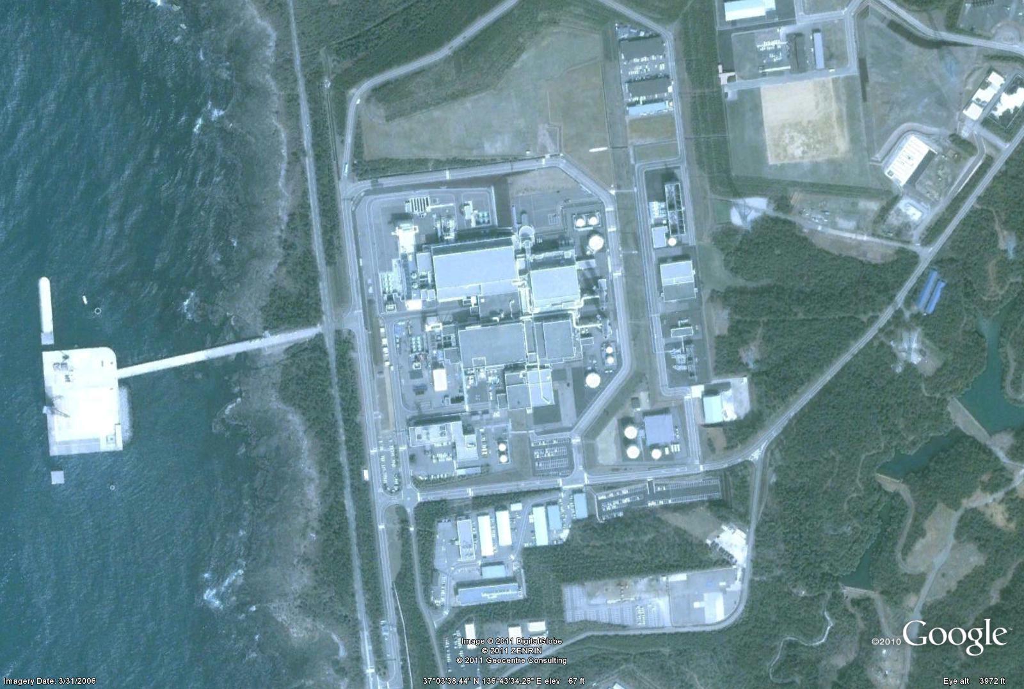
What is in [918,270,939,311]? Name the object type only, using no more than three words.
shed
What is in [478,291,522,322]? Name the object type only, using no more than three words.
building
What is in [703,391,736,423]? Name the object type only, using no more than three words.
building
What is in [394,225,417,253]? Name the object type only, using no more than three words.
house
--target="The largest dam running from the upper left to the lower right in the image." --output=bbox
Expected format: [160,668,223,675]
[950,395,990,439]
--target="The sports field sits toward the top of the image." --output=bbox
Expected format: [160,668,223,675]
[761,79,848,166]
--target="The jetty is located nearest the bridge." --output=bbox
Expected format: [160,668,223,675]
[42,347,123,456]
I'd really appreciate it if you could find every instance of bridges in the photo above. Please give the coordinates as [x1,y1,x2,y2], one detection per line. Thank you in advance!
[117,325,320,379]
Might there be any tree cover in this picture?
Yes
